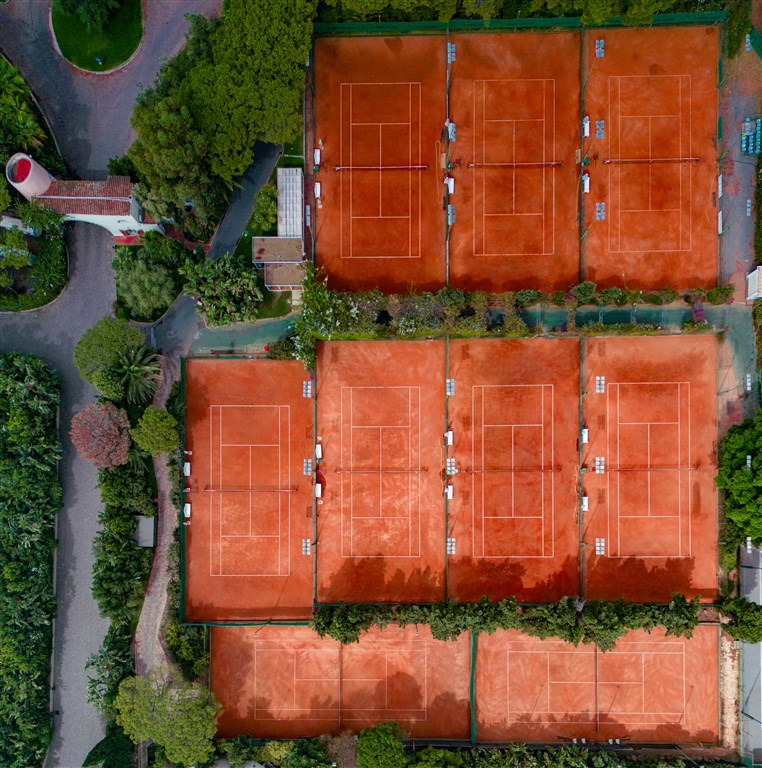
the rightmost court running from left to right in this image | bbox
[475,624,719,742]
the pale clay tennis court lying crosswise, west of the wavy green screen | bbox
[211,624,471,741]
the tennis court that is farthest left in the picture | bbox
[186,360,314,620]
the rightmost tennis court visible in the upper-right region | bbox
[585,26,719,290]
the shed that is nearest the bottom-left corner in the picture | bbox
[134,516,159,547]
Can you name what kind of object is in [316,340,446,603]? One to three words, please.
tennis court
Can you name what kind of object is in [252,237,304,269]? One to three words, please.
building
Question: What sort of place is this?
sports ground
